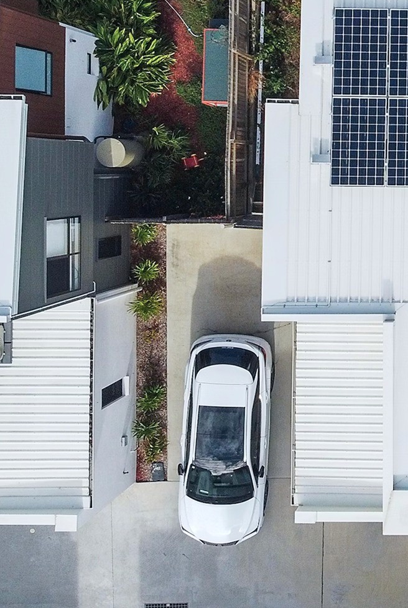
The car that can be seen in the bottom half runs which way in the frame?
vertically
